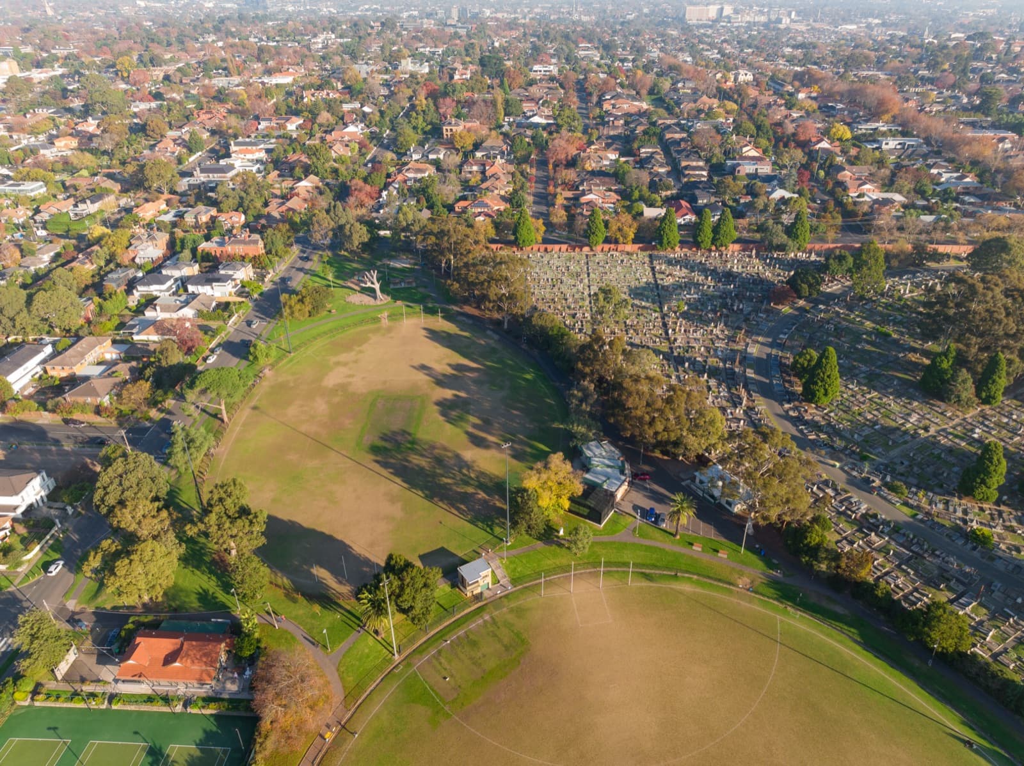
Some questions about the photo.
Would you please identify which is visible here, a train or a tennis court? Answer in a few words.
tennis court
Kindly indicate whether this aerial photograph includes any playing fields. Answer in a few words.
Yes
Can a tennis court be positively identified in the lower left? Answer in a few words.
Yes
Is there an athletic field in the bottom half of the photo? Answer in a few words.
Yes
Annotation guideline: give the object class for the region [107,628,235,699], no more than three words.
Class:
building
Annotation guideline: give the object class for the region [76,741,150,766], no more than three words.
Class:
tennis court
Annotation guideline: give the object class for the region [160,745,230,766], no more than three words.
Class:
tennis court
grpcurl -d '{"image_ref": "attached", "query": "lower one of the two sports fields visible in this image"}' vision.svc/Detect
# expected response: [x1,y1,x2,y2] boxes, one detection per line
[302,569,1024,766]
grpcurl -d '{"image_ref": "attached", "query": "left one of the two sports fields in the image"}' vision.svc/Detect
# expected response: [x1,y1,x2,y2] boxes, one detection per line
[211,315,570,595]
